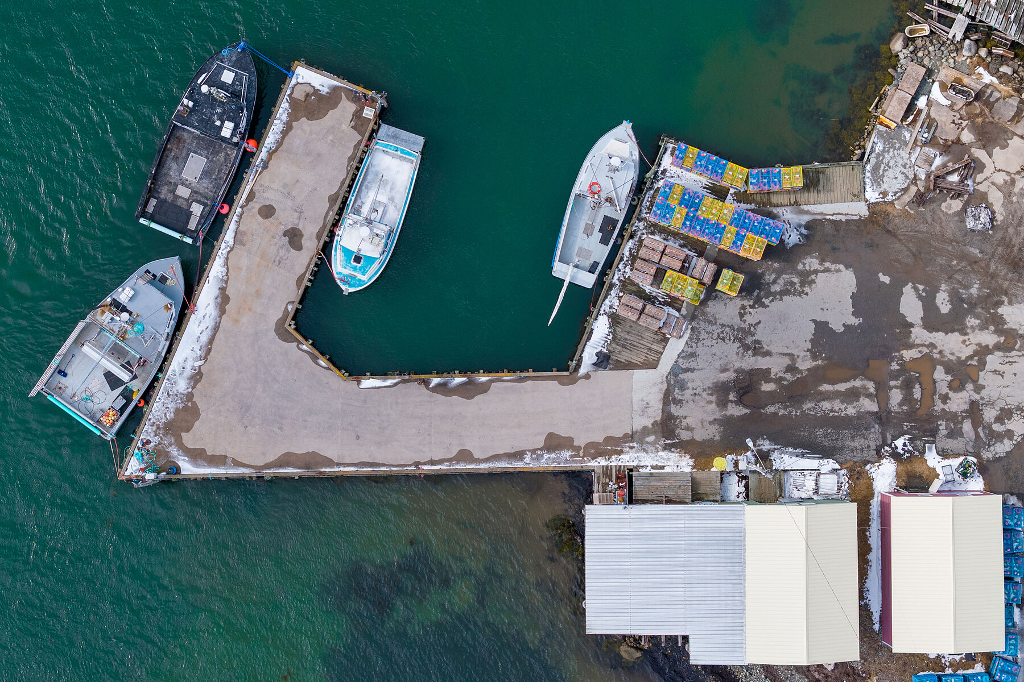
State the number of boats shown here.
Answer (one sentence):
The photo contains 4 boats.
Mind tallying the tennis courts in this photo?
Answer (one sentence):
No tennis courts are visible.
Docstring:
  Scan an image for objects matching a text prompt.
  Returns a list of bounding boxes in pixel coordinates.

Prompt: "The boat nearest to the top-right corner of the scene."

[547,119,640,326]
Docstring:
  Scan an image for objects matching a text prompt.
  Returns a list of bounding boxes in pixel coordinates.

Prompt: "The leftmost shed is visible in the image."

[586,501,745,665]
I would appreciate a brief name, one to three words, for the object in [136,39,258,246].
boat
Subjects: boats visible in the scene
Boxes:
[136,39,258,246]
[547,119,640,326]
[28,255,185,440]
[331,123,426,295]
